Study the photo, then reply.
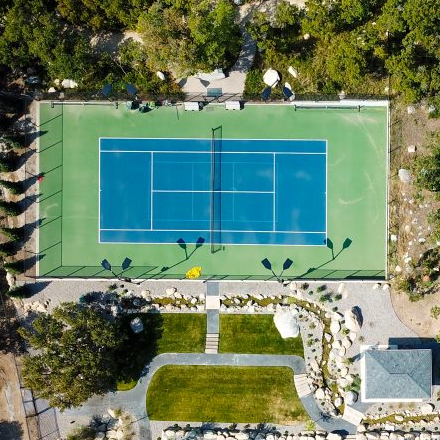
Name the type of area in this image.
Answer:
sports ground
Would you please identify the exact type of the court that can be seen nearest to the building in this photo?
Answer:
tennis court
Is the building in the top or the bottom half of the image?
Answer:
bottom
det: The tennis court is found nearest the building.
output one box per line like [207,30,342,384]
[34,99,390,282]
